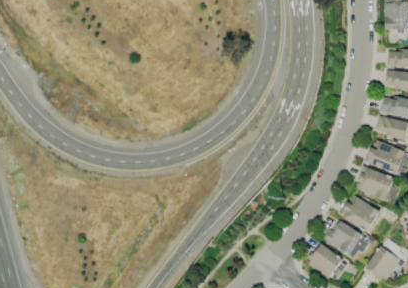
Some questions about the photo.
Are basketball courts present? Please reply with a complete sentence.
No, I find no basketball court anywhere in the image.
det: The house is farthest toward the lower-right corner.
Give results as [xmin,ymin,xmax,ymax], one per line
[368,248,401,282]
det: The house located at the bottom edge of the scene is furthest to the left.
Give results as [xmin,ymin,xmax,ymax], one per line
[309,245,343,278]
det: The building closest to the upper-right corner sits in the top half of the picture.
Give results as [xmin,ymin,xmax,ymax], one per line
[386,0,408,31]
